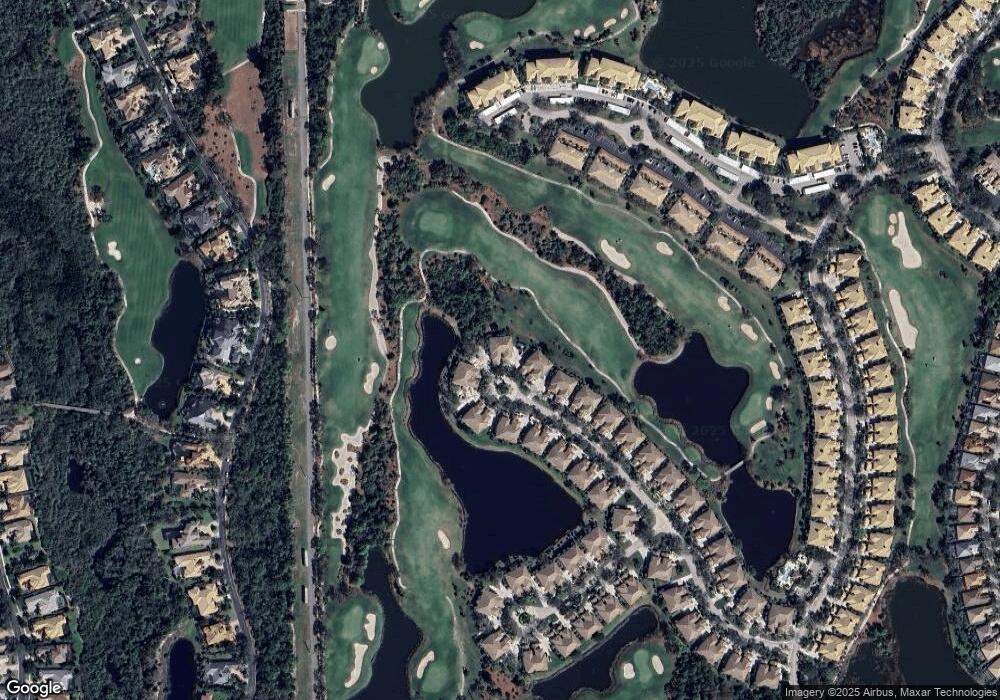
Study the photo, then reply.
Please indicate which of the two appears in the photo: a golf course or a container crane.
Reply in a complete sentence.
The one in the frame is a golf course.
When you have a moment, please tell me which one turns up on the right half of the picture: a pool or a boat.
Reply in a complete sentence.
It is a pool that can be seen on the right half of the picture.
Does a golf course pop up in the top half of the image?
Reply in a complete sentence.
Yes, the scene does show a golf course in the top half of the image.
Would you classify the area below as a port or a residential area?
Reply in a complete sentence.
This image shows a residential area.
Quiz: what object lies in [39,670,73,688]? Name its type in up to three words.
house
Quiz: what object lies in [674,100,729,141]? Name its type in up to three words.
building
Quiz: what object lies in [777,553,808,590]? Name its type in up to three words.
swimming pool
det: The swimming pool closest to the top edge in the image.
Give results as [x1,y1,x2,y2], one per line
[644,76,675,104]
